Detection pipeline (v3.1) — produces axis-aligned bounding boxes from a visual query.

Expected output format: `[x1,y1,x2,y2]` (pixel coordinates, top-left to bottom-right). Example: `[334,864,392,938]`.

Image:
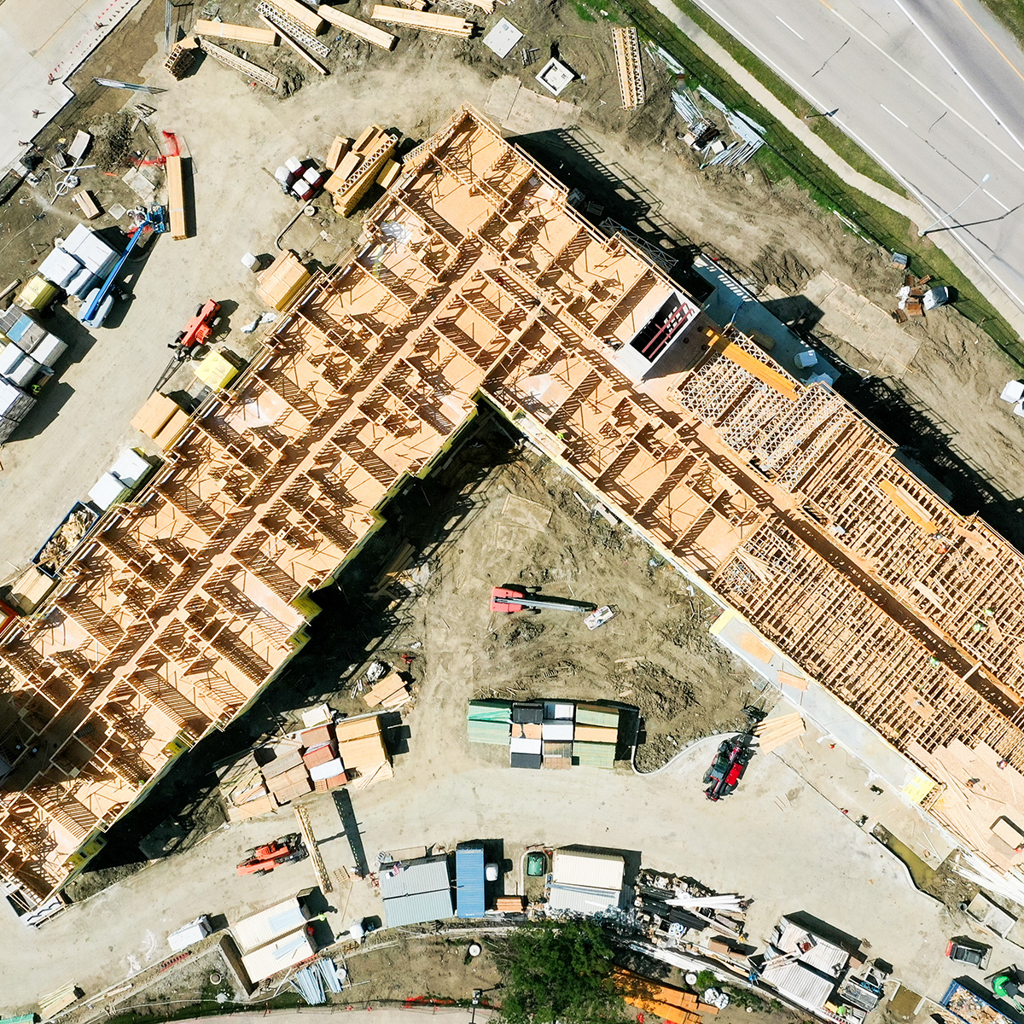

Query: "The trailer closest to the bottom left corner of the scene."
[170,911,214,948]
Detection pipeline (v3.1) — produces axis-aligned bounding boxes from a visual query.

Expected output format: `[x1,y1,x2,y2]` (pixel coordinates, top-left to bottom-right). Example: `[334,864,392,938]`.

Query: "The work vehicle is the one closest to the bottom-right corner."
[972,967,1024,1013]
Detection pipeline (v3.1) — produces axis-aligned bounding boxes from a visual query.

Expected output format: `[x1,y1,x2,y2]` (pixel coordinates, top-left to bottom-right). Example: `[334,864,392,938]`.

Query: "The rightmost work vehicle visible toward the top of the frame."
[160,296,227,383]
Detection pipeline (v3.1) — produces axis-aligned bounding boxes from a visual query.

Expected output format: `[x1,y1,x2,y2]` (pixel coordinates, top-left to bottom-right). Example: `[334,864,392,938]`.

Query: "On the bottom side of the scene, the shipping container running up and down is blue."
[456,838,485,915]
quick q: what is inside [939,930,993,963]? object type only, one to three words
truck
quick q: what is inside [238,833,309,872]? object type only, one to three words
work vehicle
